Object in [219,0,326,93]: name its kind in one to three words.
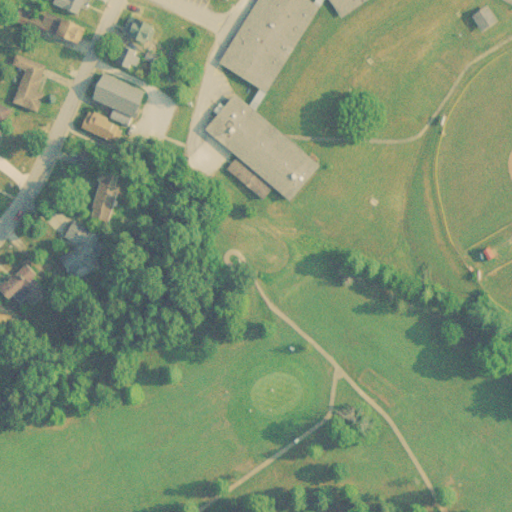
building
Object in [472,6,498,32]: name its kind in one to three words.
shed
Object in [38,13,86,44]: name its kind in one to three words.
house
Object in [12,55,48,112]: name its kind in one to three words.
house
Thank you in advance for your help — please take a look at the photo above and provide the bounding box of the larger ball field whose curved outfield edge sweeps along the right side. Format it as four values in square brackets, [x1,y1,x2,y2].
[436,50,512,263]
